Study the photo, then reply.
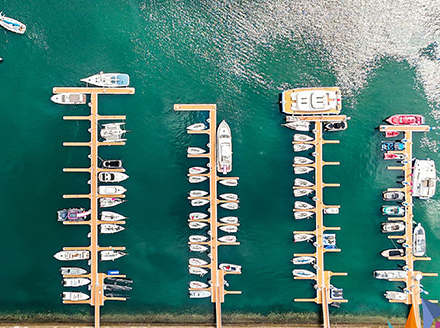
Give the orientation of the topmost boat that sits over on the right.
from side to side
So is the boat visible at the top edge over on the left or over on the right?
left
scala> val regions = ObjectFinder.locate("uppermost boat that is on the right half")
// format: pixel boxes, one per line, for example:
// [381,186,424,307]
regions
[278,87,342,116]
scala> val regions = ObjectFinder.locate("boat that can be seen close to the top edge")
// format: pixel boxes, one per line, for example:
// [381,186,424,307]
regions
[0,12,27,35]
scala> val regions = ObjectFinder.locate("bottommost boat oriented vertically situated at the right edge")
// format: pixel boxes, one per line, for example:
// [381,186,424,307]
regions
[413,225,426,256]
